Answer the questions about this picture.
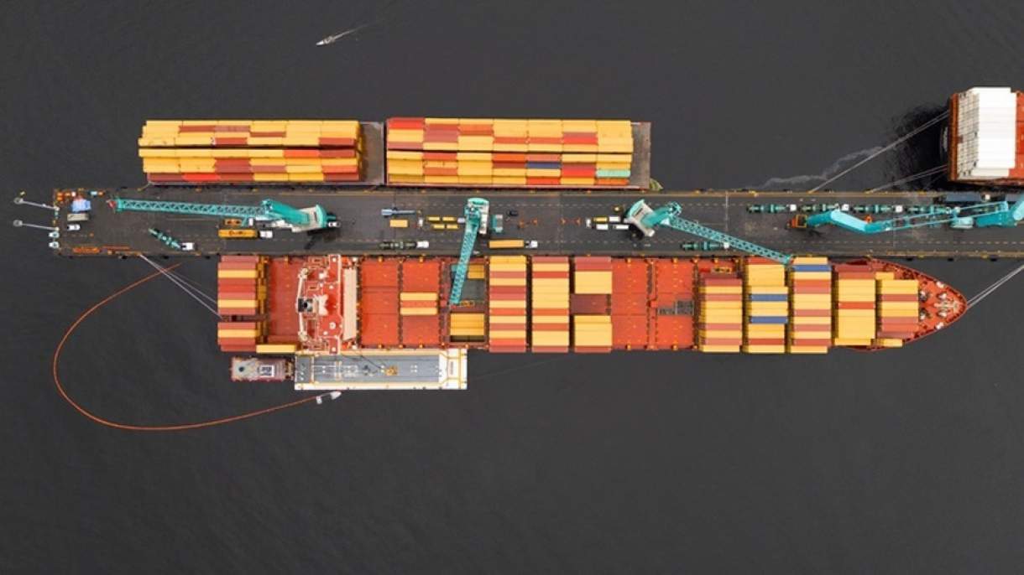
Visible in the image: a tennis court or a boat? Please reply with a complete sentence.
There is a boat in the scene.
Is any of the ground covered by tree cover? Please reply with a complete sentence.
No, tree cover can't be seen anywhere here.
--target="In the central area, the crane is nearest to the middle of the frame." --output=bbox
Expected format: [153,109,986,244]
[450,195,503,311]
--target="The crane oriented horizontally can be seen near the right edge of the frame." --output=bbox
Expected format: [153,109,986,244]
[792,200,1024,239]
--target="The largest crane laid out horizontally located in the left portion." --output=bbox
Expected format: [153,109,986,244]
[111,201,340,239]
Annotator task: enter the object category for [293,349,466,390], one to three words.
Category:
ship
